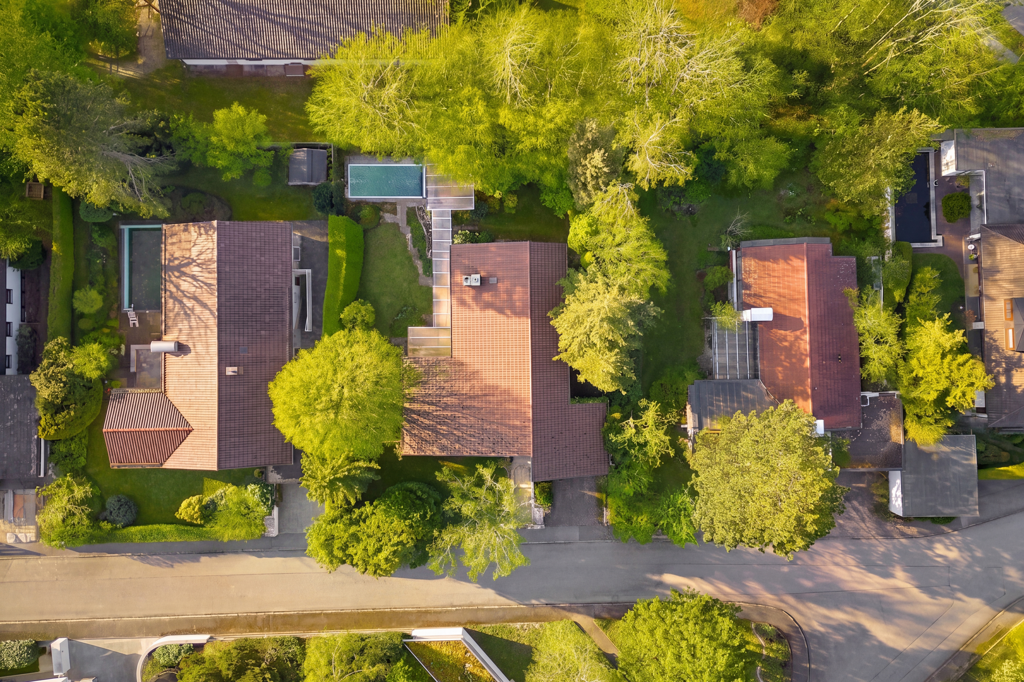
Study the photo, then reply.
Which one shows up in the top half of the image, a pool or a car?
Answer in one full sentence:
It is a pool that can be seen in the top half of the image.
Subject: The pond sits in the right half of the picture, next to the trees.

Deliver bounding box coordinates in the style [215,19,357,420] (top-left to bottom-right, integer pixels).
[893,146,944,246]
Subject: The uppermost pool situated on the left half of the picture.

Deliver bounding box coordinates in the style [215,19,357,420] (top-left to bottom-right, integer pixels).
[347,162,426,199]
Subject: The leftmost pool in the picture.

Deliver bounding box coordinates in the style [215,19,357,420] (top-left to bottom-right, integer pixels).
[117,224,161,312]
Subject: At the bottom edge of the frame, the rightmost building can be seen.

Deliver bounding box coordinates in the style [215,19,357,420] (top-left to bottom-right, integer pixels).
[403,625,513,682]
